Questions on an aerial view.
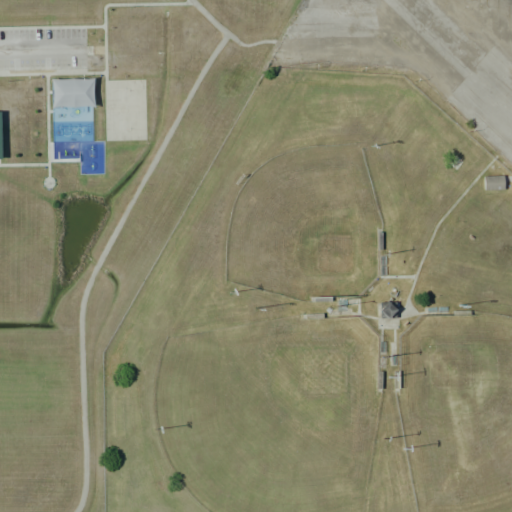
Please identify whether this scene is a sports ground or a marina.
sports ground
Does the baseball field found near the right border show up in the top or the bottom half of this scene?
bottom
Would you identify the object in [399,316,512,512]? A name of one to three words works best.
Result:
baseball field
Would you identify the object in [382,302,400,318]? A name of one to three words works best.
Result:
building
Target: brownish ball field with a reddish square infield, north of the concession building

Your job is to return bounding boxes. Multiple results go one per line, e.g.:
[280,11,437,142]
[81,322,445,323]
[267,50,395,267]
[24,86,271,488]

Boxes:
[226,146,382,301]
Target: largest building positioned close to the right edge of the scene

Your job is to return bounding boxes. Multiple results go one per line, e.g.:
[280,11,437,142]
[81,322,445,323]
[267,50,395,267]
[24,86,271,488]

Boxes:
[485,176,506,190]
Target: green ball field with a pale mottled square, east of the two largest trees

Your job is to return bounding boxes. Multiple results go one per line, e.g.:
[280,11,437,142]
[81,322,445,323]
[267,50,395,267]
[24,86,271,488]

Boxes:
[157,319,381,512]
